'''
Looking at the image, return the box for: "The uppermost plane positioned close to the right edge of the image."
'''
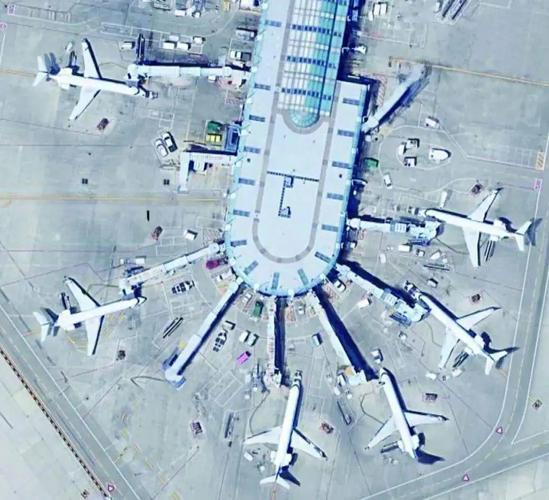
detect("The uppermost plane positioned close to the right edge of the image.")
[425,187,532,267]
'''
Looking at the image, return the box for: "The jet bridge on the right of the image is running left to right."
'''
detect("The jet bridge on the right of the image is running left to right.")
[346,217,439,244]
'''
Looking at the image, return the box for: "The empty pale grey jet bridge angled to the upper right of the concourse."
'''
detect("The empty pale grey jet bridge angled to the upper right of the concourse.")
[360,62,426,133]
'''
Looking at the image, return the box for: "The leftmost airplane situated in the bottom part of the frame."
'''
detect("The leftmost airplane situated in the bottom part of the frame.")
[31,277,138,356]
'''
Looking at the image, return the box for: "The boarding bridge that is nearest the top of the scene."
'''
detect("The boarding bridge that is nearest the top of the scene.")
[127,59,250,78]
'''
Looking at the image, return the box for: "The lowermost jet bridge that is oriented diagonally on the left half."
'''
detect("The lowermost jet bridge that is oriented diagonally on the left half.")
[165,279,244,386]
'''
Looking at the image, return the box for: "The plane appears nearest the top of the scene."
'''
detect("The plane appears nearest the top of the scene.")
[32,39,139,120]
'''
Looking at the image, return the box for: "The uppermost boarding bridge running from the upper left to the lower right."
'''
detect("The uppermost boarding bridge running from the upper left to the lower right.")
[333,260,427,326]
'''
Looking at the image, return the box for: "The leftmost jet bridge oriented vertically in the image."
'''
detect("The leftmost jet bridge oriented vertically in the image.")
[265,294,284,389]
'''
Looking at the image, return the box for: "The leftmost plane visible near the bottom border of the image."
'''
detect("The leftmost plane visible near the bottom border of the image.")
[244,377,324,485]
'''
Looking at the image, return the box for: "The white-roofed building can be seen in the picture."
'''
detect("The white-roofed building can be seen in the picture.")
[225,0,367,296]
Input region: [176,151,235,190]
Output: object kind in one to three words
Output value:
jet bridge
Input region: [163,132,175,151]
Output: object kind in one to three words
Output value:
vehicle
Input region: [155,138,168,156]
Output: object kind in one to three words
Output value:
vehicle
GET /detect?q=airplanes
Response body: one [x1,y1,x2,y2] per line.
[244,377,324,485]
[416,293,507,375]
[31,277,138,356]
[425,187,532,267]
[32,39,139,120]
[365,369,443,475]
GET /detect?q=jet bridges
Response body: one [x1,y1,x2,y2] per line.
[165,279,244,386]
[127,59,250,78]
[118,243,226,294]
[176,151,235,190]
[346,217,439,244]
[333,260,427,326]
[307,287,365,386]
[360,62,426,133]
[265,294,284,389]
